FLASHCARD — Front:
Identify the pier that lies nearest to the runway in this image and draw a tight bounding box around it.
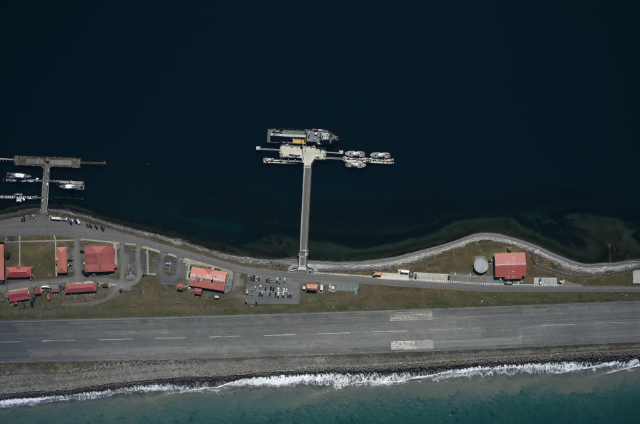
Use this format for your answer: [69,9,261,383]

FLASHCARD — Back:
[256,145,343,273]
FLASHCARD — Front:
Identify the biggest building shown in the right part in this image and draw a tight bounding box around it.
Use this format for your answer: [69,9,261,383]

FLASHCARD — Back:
[494,252,526,279]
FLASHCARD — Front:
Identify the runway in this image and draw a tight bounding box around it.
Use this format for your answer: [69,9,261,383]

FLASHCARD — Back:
[0,301,640,363]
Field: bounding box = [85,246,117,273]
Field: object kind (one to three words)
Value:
building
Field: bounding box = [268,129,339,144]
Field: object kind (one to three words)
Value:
ship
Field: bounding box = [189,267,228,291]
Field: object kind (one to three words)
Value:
house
